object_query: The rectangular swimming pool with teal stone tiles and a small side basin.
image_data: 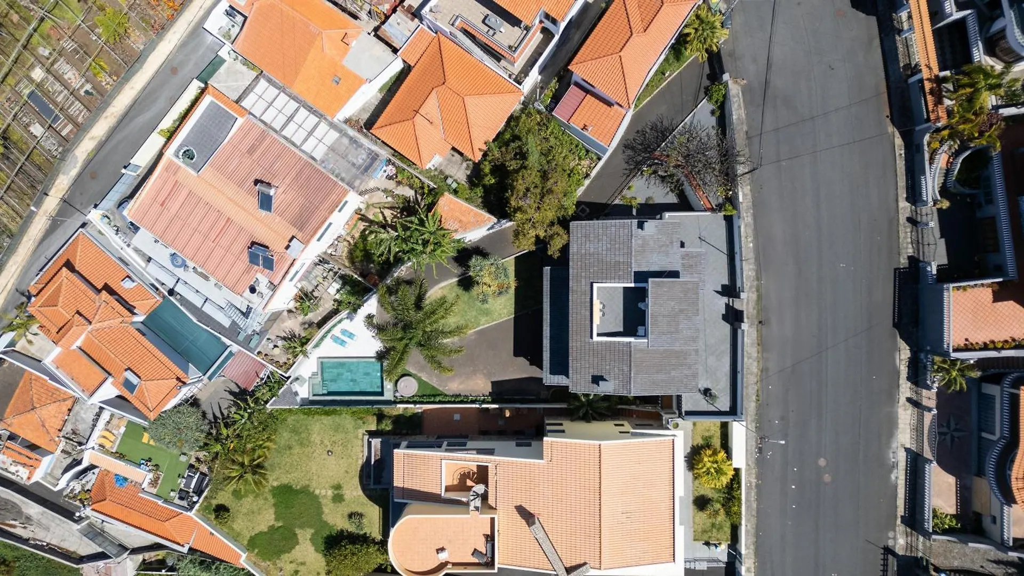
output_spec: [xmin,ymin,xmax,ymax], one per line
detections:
[286,294,397,404]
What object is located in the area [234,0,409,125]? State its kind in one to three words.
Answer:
house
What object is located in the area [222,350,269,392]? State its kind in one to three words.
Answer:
shed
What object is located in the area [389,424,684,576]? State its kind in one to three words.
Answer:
house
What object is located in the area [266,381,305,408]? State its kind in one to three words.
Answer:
shed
